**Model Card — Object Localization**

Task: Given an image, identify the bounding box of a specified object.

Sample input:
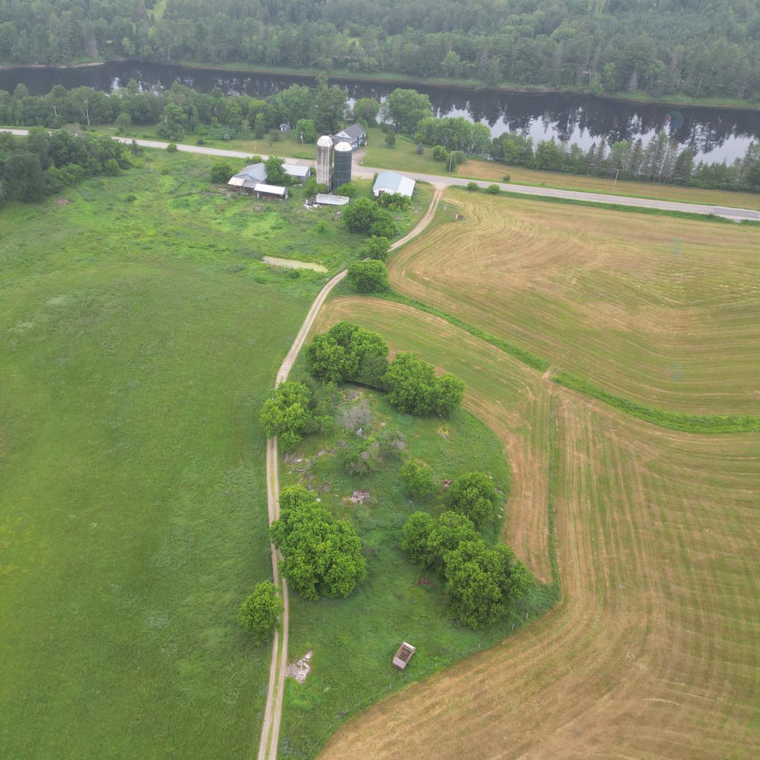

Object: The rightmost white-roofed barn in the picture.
[373,171,414,200]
